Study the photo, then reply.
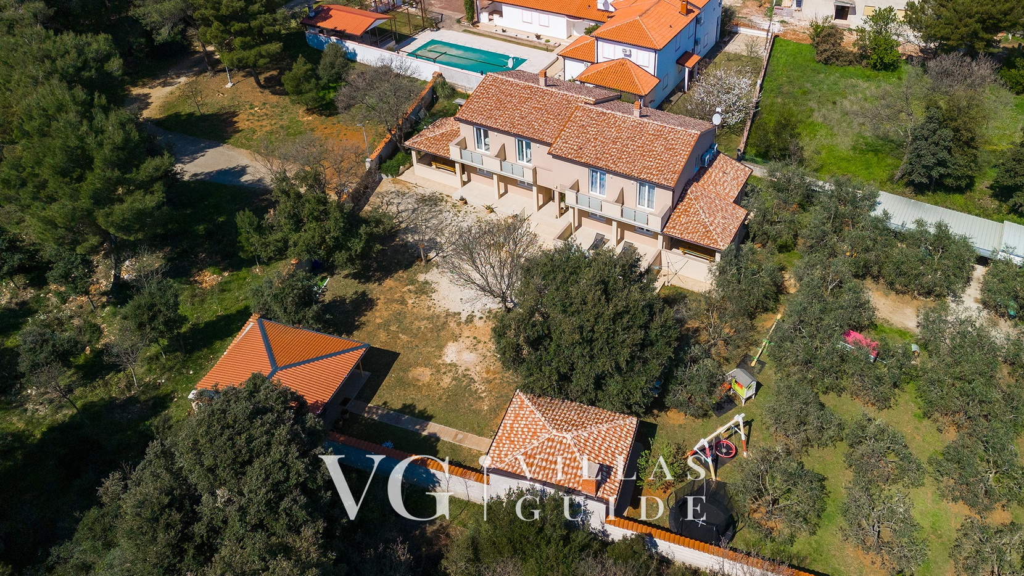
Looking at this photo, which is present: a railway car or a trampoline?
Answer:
trampoline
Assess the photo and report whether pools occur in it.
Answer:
Yes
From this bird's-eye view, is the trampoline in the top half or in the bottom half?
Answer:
bottom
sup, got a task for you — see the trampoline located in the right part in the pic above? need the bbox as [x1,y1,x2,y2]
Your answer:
[669,484,734,546]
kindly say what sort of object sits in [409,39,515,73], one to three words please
swimming pool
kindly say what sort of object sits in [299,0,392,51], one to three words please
building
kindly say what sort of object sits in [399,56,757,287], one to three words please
house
